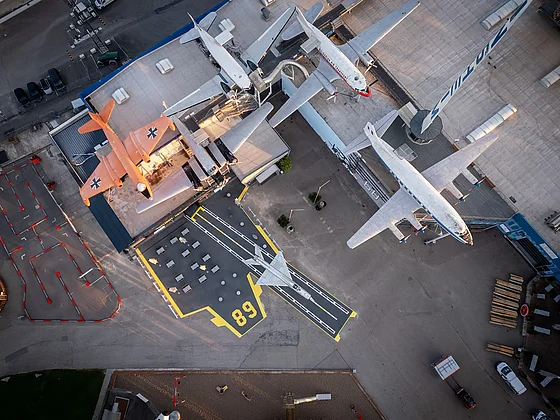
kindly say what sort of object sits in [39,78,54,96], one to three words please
car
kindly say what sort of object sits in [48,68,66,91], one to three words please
car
